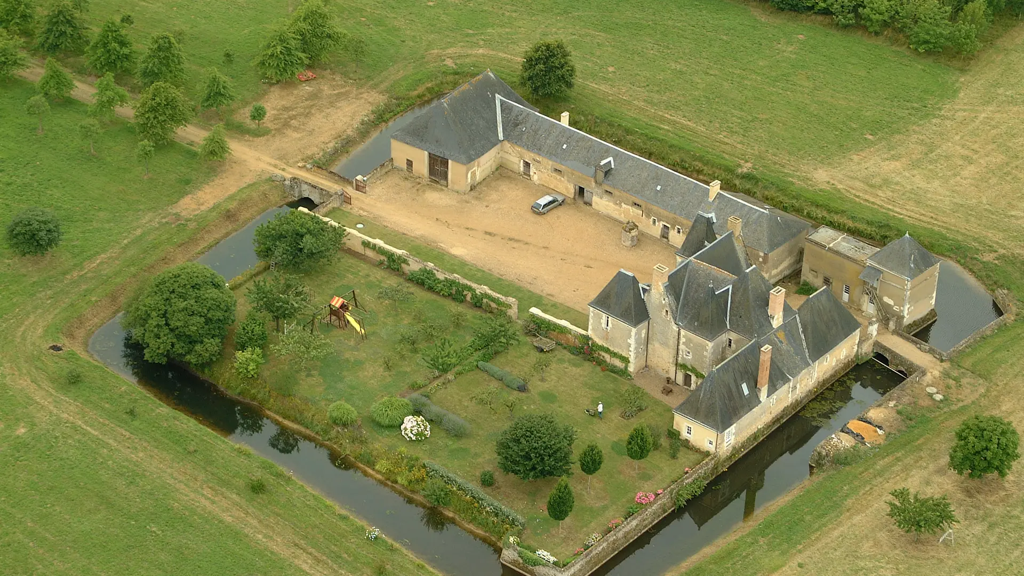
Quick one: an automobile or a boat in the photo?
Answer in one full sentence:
There is an automobile in the scene.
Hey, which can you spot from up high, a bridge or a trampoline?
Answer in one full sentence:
Looking from above, you can make out a bridge.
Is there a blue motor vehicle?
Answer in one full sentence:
No, I find no blue motor vehicle anywhere in the image.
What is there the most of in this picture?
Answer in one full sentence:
What you mostly see from above here is grass.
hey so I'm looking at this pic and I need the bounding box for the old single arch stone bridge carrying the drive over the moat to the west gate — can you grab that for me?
[284,167,357,207]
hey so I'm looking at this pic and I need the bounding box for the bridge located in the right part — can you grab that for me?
[872,336,948,381]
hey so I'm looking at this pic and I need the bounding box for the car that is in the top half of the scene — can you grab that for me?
[528,191,568,215]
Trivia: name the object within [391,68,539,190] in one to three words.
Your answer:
barn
